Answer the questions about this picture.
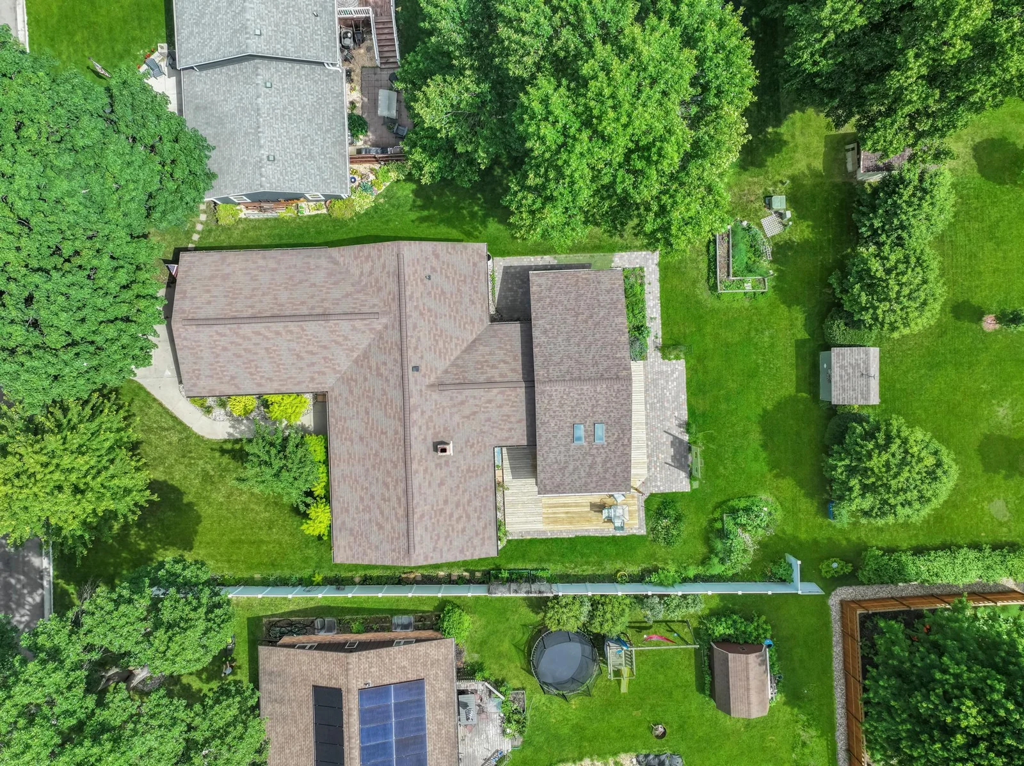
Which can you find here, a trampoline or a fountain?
trampoline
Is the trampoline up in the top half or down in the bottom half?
bottom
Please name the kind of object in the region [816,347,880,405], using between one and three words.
shed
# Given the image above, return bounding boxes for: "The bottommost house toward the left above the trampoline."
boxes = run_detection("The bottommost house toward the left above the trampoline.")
[170,241,633,566]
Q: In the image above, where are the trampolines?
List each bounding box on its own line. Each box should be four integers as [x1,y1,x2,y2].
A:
[530,625,601,707]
